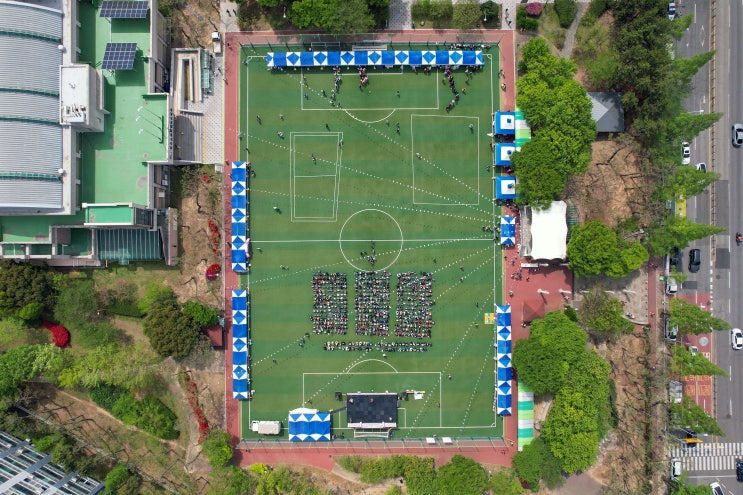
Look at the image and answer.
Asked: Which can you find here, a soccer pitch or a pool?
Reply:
soccer pitch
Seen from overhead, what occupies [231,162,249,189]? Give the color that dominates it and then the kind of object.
blue tent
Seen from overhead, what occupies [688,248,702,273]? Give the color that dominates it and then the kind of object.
black car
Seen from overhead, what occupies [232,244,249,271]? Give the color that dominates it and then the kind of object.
blue tent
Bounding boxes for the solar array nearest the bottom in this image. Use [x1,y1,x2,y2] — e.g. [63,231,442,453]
[102,43,137,70]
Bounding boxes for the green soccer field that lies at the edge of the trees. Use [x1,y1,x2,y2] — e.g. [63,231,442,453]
[239,44,503,441]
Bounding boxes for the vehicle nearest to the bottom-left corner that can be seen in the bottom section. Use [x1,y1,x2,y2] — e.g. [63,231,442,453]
[253,421,282,436]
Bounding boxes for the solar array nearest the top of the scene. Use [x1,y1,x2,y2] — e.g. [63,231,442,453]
[100,0,149,21]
